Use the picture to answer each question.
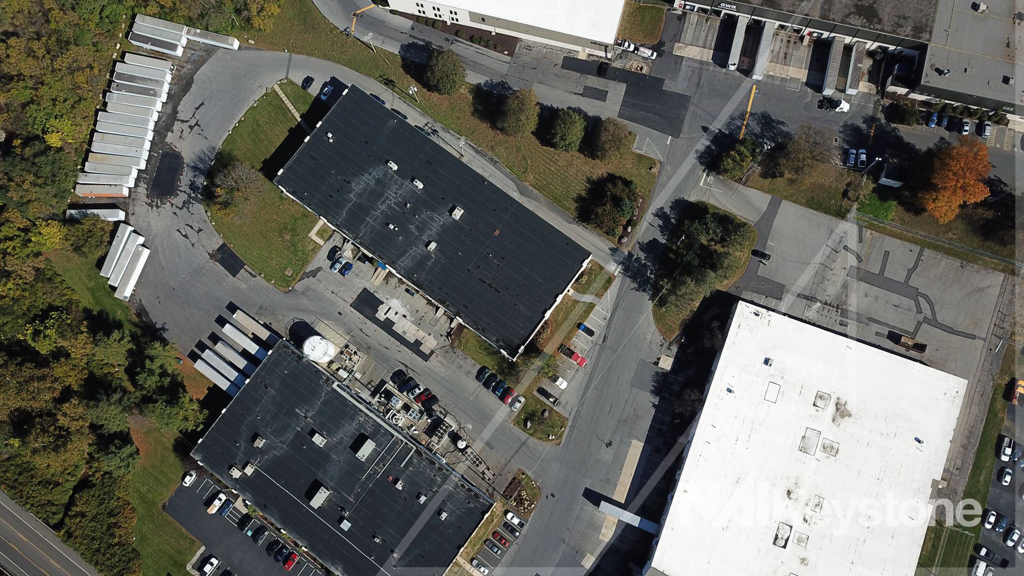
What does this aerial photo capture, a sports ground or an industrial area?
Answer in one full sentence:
It's an industrial area.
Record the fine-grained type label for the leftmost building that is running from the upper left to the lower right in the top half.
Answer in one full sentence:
Specifically, the leftmost building that is running from the upper left to the lower right in the top half is a warehouse.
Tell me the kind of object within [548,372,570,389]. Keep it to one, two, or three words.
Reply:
vehicle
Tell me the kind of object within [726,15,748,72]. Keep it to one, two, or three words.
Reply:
trailer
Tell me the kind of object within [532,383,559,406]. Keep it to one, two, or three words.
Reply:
truck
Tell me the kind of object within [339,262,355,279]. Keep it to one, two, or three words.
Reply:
car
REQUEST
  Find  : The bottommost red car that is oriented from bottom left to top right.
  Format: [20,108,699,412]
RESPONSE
[282,552,300,571]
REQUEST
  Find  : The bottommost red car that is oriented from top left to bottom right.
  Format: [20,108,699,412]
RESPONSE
[492,531,511,548]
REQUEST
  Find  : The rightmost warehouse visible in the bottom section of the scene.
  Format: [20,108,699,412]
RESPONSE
[644,301,968,576]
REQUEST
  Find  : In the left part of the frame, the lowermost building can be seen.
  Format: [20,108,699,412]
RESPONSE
[191,340,498,576]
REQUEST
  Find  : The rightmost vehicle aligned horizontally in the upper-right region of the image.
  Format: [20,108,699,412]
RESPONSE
[817,99,850,114]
